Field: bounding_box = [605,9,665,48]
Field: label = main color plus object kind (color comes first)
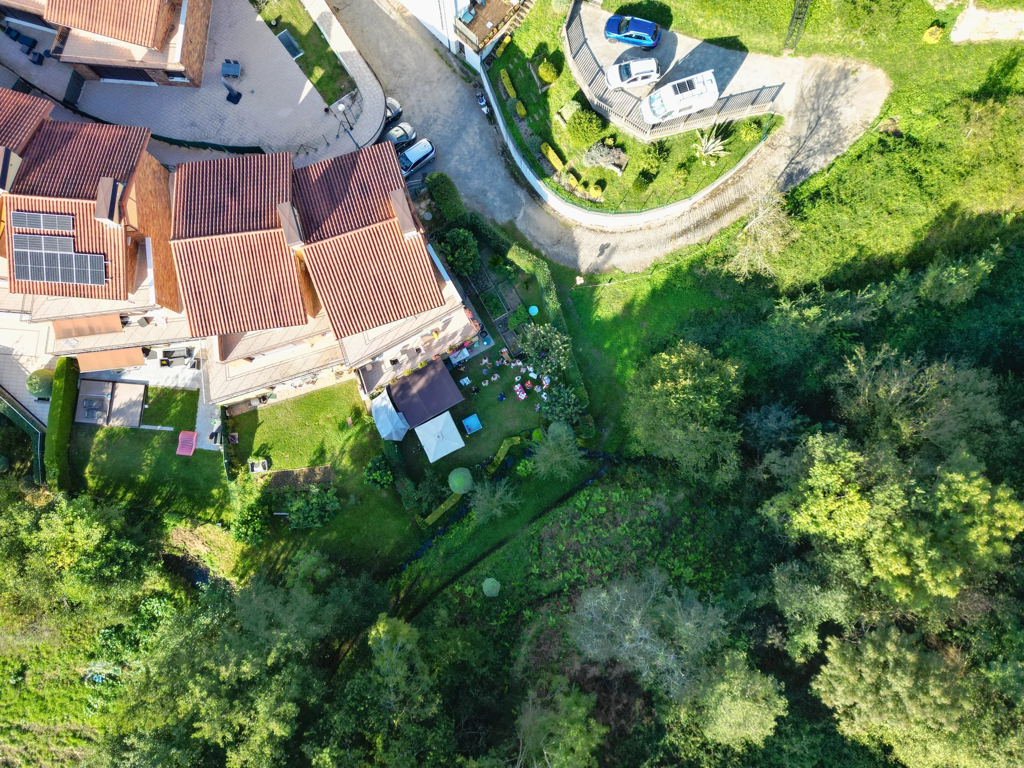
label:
blue car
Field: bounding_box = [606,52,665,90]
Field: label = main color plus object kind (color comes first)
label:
white car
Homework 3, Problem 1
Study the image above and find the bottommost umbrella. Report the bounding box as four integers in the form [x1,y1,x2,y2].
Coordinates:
[414,411,464,463]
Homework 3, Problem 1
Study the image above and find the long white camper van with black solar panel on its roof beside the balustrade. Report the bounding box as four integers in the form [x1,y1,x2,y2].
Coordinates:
[642,58,731,123]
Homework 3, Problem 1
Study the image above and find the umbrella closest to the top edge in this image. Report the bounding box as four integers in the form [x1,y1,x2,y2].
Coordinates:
[222,80,243,105]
